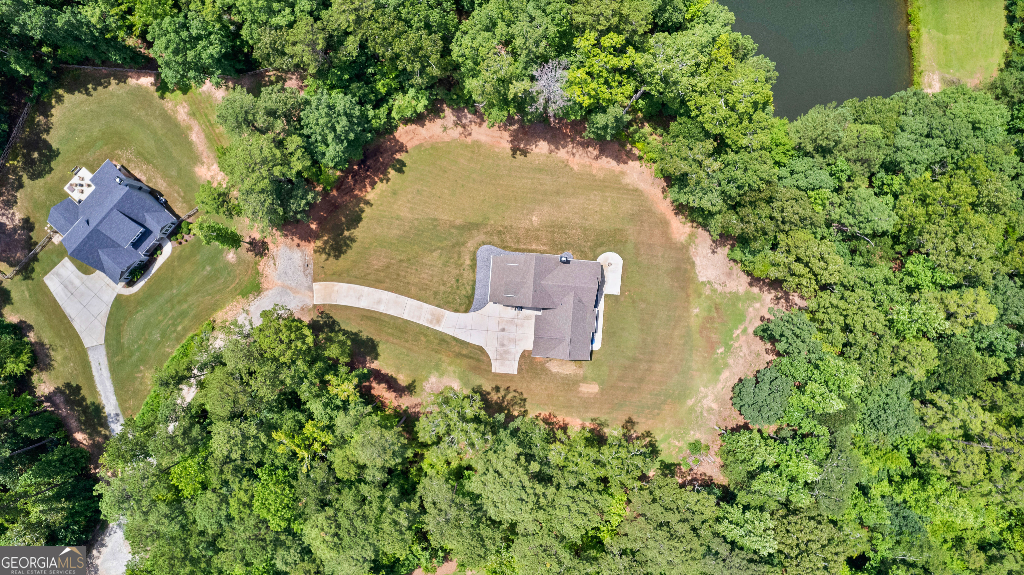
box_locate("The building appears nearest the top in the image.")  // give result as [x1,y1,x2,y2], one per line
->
[48,159,181,287]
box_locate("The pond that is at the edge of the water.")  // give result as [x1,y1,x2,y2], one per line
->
[718,0,915,115]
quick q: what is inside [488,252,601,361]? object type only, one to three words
house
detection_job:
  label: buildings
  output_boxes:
[488,252,601,361]
[48,159,181,287]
